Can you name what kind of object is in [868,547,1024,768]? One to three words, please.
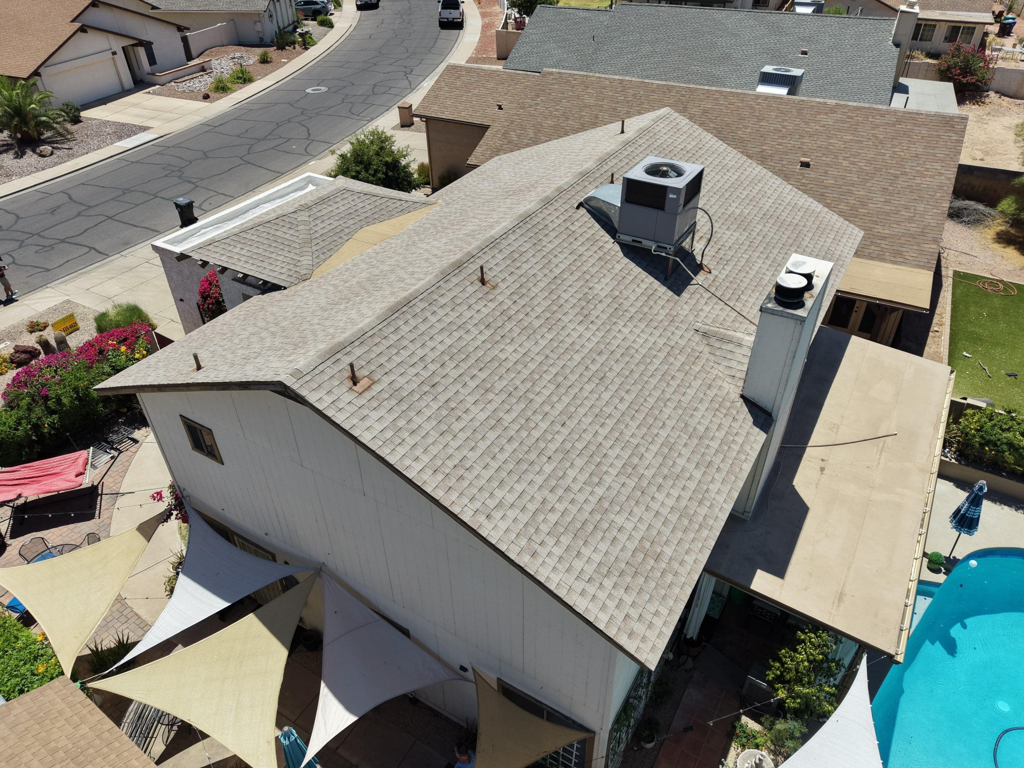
swimming pool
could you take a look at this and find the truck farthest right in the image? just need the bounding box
[438,0,464,28]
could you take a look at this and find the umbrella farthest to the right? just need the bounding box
[948,485,994,565]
